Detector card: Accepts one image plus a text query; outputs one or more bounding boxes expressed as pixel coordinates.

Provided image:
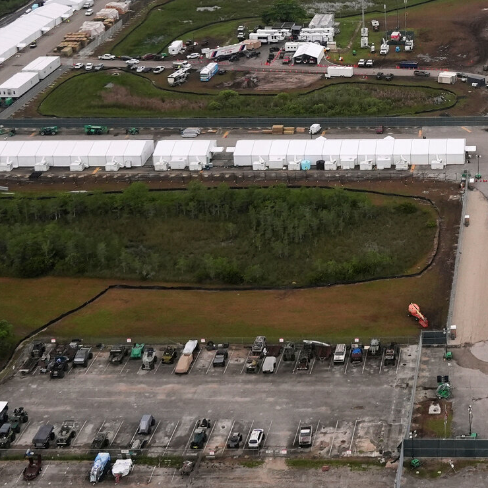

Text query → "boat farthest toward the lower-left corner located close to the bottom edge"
[16,451,49,487]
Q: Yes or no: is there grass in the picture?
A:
Yes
